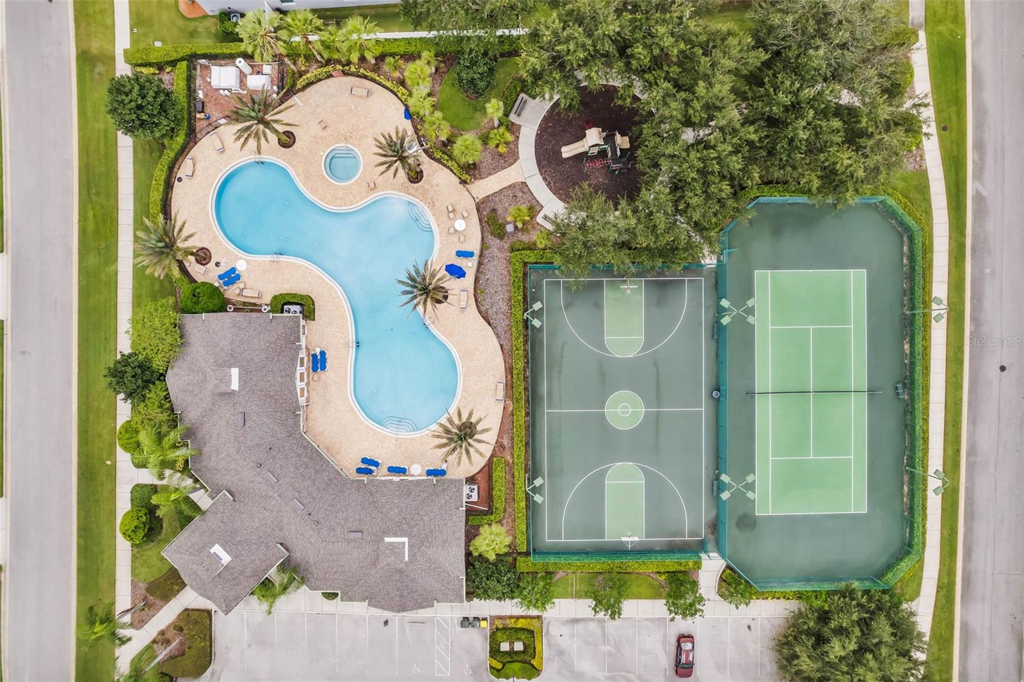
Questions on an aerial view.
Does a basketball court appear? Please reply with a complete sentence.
Yes, this view includes a basketball court.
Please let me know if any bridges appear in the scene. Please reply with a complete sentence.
No, the frame has no bridge in it.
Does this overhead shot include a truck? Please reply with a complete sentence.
No, this view has no truck in it.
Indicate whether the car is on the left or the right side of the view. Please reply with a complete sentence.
The car sits on the right side.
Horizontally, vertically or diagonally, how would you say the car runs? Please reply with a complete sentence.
The car is laid out vertically.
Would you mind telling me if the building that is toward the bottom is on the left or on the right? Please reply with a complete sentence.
It is on the left.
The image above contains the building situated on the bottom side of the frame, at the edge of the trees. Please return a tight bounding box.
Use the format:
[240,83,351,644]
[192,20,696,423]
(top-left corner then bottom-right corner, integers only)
[161,313,466,615]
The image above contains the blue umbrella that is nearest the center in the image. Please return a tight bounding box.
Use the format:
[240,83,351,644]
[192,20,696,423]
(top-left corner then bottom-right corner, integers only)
[442,261,464,279]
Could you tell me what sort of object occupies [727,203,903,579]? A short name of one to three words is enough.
tennis court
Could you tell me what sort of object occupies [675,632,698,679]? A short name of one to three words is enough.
car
